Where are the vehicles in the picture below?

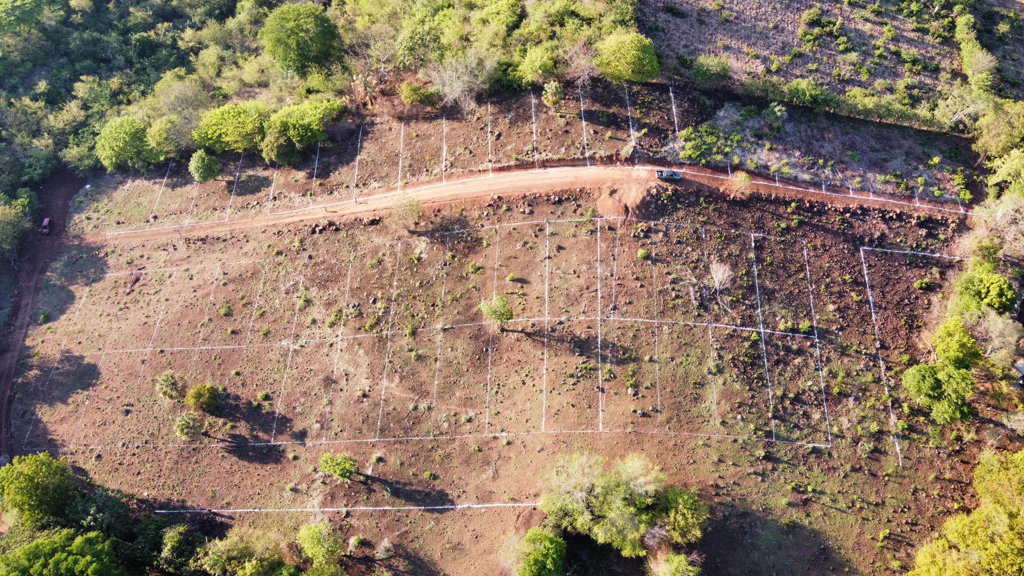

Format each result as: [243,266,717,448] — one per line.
[654,170,682,182]
[39,217,53,235]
